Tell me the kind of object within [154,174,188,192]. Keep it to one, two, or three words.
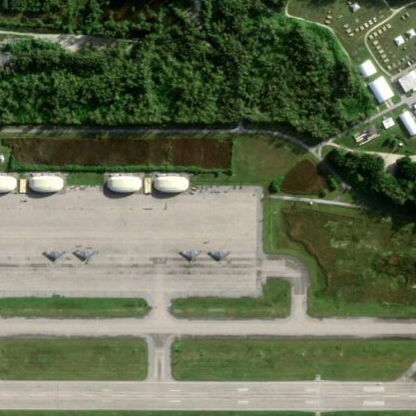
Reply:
hangar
